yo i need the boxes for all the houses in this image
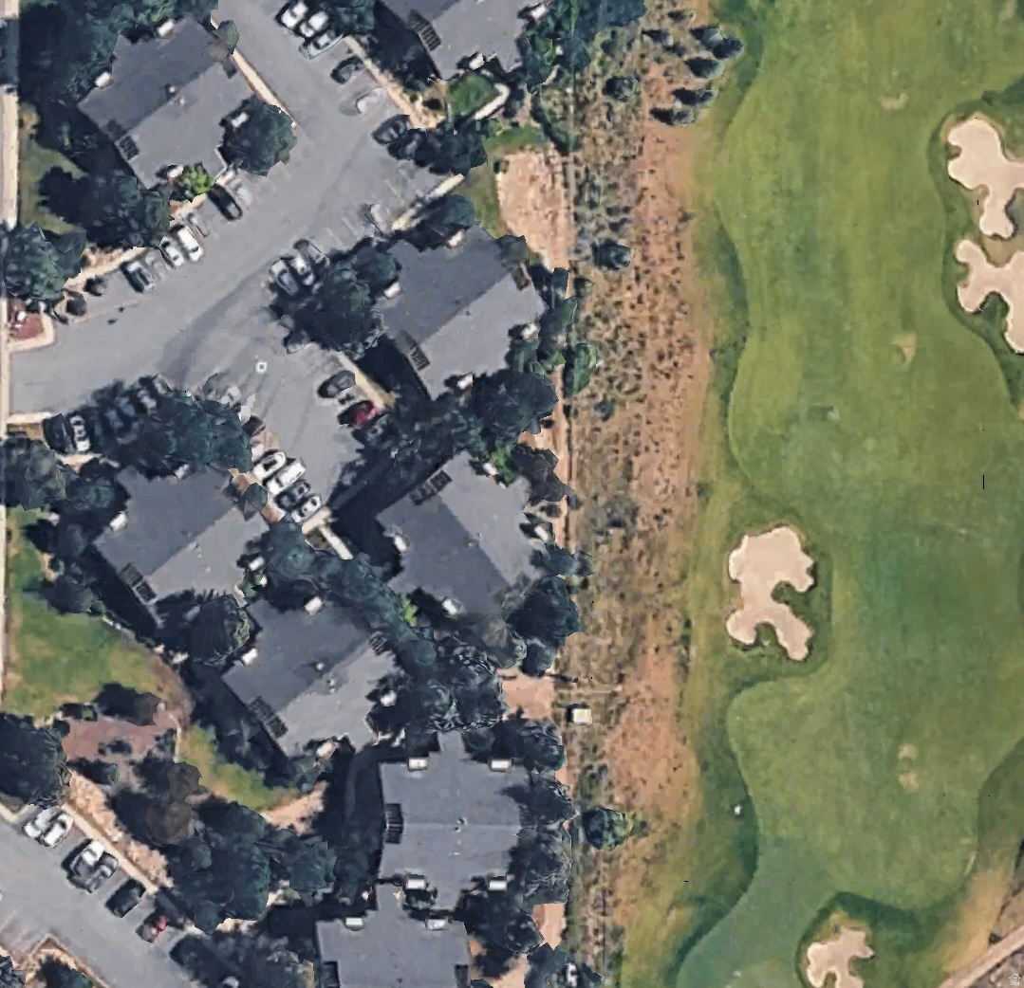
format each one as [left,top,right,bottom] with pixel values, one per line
[223,584,417,771]
[378,0,557,88]
[316,887,472,988]
[365,214,557,404]
[376,440,565,635]
[379,729,535,913]
[74,7,269,192]
[90,451,285,637]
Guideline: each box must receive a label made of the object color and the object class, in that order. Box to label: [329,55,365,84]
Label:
gray car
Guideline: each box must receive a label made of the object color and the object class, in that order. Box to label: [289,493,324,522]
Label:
white car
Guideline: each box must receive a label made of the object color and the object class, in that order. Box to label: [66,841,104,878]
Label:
white car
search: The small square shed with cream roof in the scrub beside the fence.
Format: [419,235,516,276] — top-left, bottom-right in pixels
[570,706,589,724]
